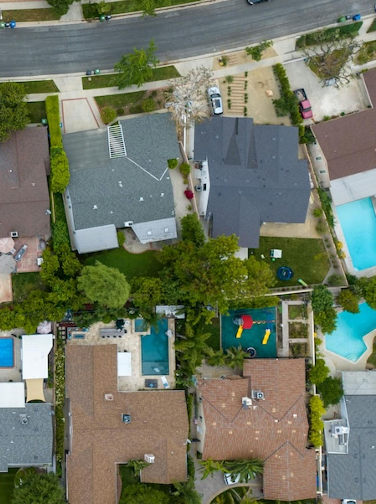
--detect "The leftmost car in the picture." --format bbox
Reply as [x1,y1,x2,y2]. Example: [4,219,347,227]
[207,86,223,115]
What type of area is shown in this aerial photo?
residential area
